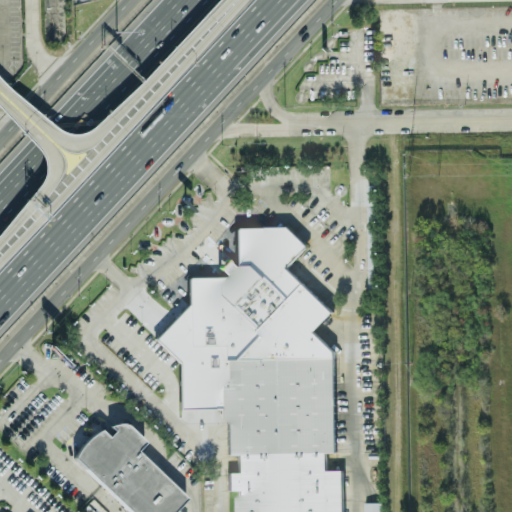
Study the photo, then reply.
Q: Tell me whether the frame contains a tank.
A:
No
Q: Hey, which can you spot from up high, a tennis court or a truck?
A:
truck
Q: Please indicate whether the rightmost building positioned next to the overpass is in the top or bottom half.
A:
bottom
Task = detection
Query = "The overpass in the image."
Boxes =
[0,0,255,272]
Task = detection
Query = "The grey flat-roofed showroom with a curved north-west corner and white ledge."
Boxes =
[76,423,190,512]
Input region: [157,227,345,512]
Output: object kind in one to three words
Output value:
building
